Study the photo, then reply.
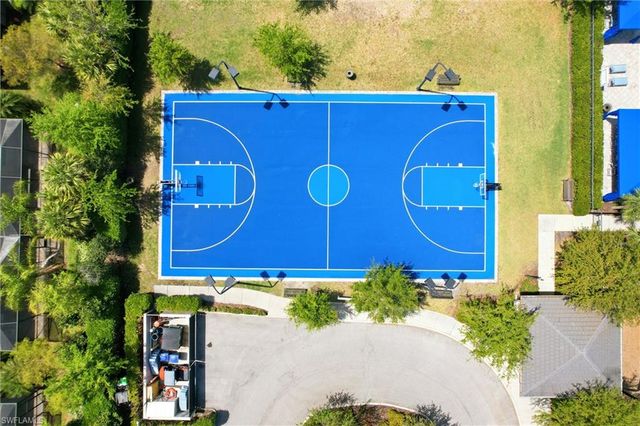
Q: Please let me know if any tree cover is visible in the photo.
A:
Yes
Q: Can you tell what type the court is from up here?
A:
basketball court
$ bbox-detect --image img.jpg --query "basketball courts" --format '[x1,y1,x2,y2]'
[158,90,498,283]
